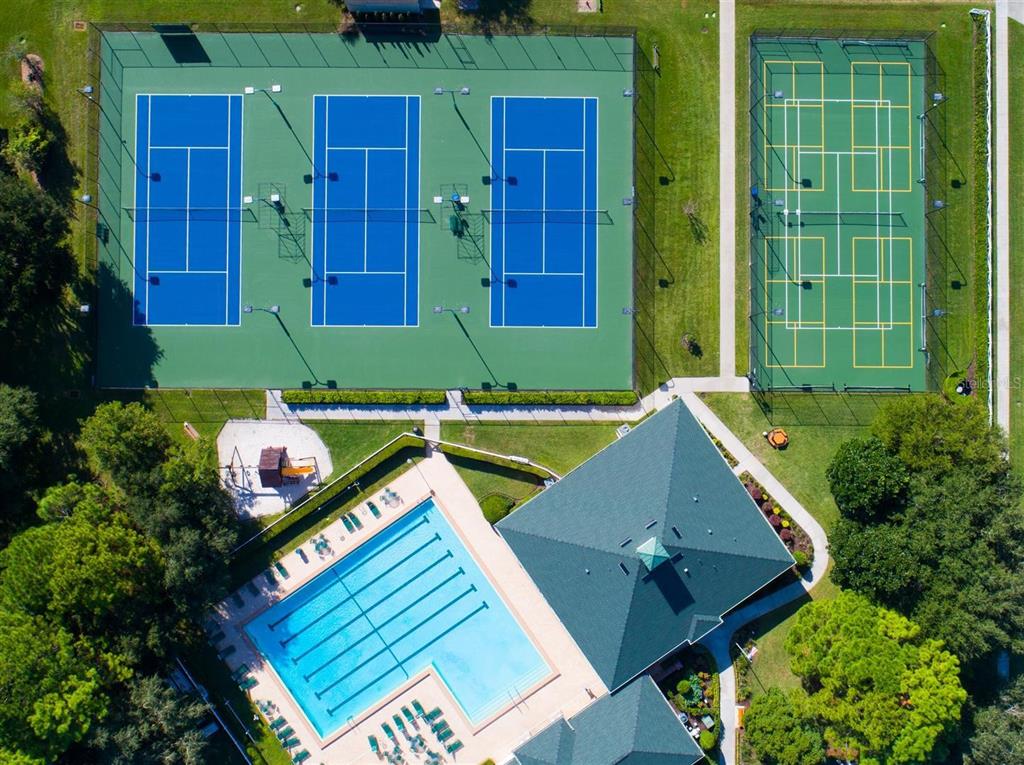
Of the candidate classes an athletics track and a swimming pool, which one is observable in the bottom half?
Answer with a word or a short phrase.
swimming pool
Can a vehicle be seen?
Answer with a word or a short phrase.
No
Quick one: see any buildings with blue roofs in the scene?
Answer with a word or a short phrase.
Yes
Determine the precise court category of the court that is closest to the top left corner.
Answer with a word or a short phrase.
tennis court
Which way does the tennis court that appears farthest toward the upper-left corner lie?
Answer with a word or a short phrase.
up and down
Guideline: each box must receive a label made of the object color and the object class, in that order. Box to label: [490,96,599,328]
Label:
blue tennis court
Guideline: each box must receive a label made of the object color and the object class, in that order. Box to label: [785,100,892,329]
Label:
green tennis court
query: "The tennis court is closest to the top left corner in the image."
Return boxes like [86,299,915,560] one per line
[132,94,243,326]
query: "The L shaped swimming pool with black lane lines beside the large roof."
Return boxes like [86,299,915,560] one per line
[232,490,563,750]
